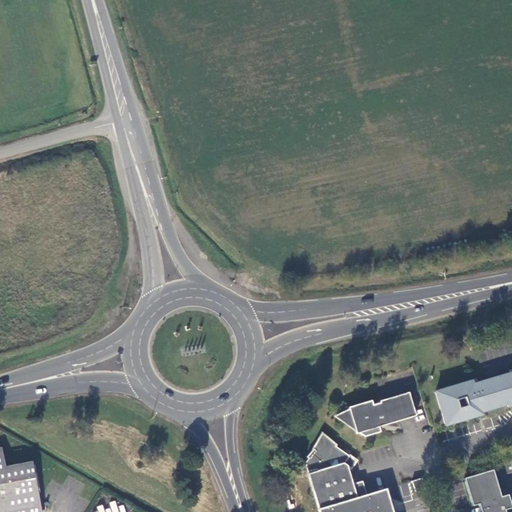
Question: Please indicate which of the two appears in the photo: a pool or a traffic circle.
traffic circle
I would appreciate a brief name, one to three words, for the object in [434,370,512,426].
building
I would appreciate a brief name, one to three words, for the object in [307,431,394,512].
building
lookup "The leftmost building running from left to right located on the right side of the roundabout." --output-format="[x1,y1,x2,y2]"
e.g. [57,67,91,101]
[334,391,416,436]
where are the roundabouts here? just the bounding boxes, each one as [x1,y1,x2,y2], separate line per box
[124,281,262,419]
